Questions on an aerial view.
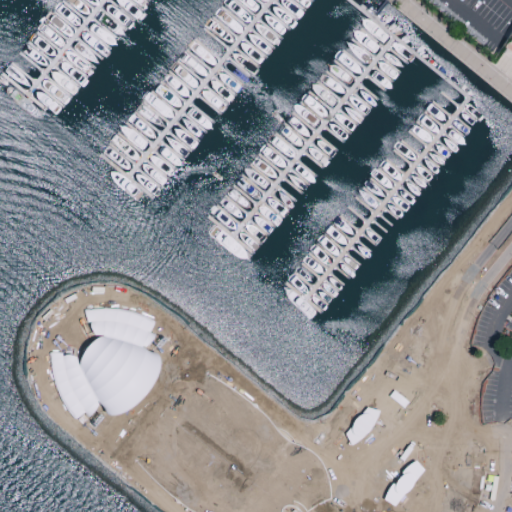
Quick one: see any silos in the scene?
No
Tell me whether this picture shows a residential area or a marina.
marina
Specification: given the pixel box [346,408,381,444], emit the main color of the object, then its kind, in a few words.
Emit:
white tent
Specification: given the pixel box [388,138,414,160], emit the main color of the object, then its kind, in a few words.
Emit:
white boat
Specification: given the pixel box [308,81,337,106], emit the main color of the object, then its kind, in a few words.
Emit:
white boat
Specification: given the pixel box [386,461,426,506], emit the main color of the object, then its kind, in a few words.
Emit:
white tent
